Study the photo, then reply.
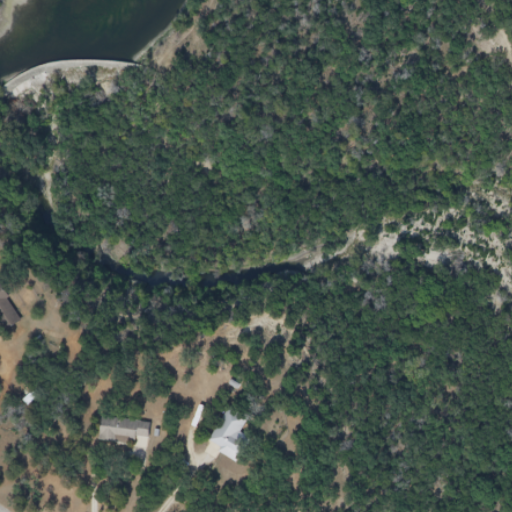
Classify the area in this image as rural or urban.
rural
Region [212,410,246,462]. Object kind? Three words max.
house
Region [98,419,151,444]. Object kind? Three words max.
house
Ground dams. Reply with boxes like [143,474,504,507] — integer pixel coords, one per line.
[4,60,140,99]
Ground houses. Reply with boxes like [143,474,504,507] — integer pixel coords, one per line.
[212,410,246,462]
[0,288,20,324]
[98,419,151,444]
